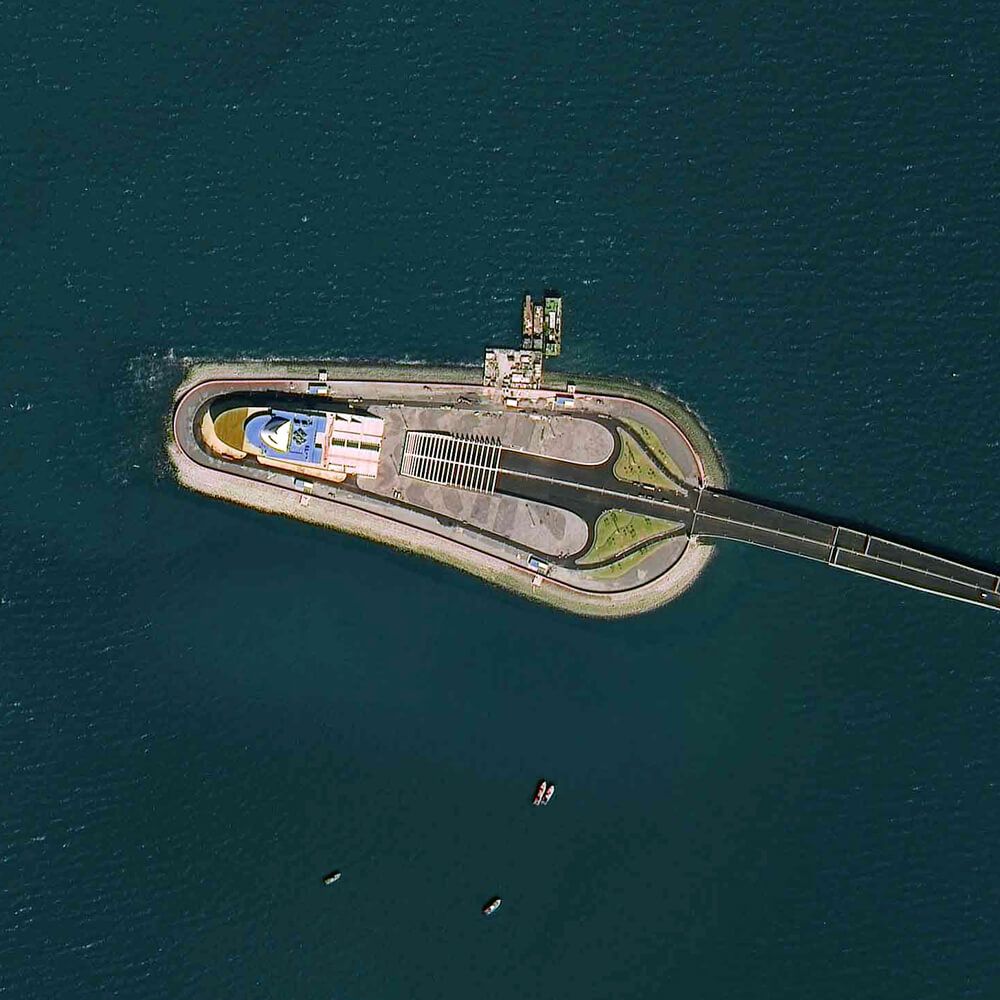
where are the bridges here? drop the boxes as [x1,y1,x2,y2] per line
[690,488,1000,610]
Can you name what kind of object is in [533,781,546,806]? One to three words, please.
boat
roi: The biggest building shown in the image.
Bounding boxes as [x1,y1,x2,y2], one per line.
[202,403,384,482]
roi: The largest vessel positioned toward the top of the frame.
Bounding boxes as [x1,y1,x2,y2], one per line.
[545,299,562,356]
